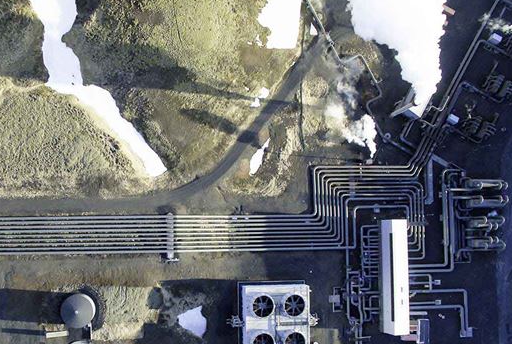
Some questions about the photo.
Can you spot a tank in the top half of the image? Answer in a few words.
No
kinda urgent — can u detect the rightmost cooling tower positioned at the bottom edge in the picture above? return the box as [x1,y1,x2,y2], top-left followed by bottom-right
[238,281,312,344]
